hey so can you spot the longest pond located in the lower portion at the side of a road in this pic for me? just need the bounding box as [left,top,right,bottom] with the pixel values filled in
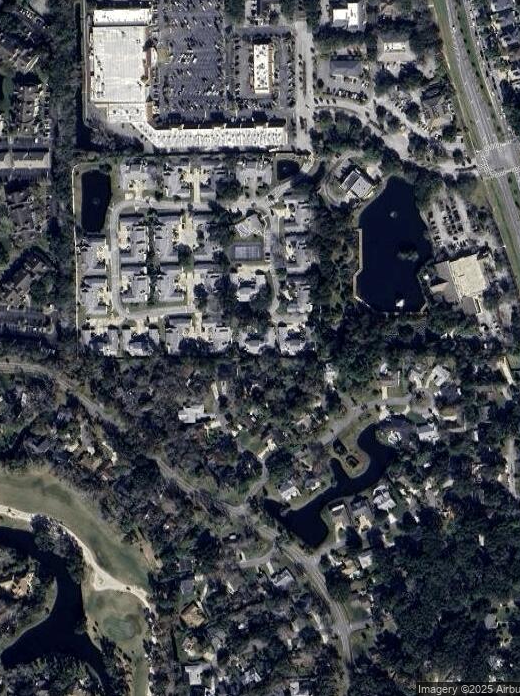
[264,423,399,548]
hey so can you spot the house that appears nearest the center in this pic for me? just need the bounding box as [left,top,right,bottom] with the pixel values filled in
[238,328,277,354]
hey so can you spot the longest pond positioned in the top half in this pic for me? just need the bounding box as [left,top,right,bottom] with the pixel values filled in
[79,169,112,232]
